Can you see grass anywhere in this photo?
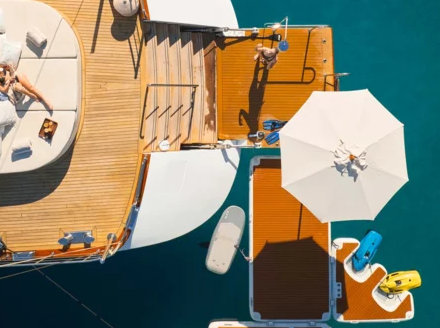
No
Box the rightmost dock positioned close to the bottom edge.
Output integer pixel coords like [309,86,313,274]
[332,238,413,322]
